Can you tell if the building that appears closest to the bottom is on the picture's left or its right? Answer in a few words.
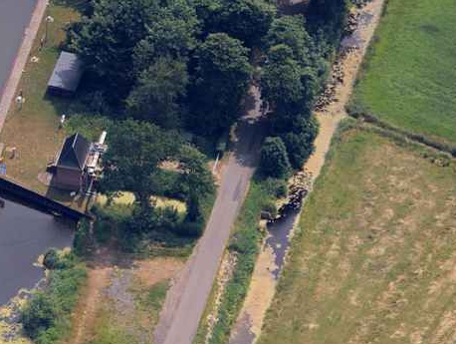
left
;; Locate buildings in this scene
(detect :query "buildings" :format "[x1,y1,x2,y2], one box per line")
[45,130,92,184]
[49,53,82,103]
